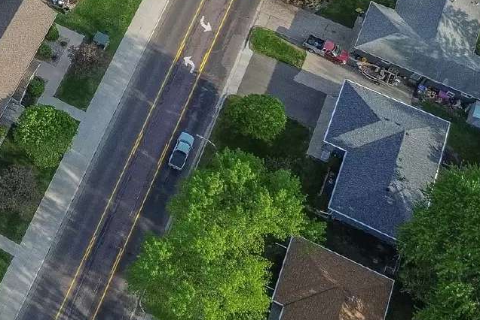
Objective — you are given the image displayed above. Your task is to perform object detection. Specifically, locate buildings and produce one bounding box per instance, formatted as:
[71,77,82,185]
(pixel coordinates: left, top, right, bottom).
[0,0,59,119]
[320,79,449,251]
[349,0,480,105]
[264,241,382,320]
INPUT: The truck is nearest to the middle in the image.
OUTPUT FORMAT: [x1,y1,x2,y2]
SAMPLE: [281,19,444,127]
[164,127,198,176]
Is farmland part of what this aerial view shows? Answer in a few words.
No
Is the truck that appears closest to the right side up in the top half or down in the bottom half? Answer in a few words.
top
